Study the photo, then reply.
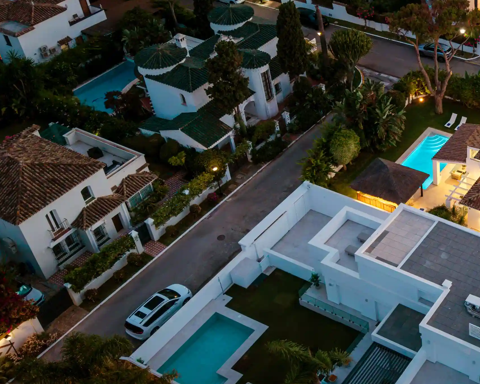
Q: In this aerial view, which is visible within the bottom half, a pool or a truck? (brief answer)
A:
pool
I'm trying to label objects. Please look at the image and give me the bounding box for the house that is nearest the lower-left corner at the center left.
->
[0,126,161,276]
